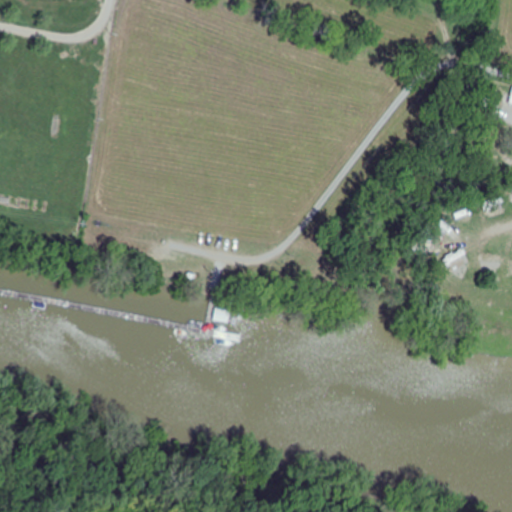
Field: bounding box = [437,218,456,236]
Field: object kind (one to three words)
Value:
vehicle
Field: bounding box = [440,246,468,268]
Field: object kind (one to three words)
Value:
house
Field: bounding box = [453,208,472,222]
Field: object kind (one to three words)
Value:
vehicle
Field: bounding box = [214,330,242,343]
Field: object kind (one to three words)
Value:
ship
